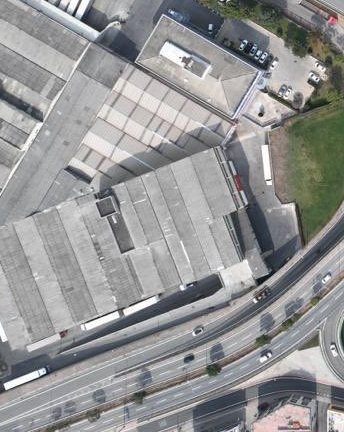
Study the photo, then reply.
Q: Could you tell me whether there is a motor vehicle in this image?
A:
Yes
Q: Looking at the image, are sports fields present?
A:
No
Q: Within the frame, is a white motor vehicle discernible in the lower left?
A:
Yes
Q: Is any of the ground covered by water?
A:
No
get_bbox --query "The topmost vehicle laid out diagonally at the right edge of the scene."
[298,0,337,23]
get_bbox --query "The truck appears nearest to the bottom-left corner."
[1,365,52,391]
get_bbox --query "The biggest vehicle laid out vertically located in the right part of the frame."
[259,143,274,184]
